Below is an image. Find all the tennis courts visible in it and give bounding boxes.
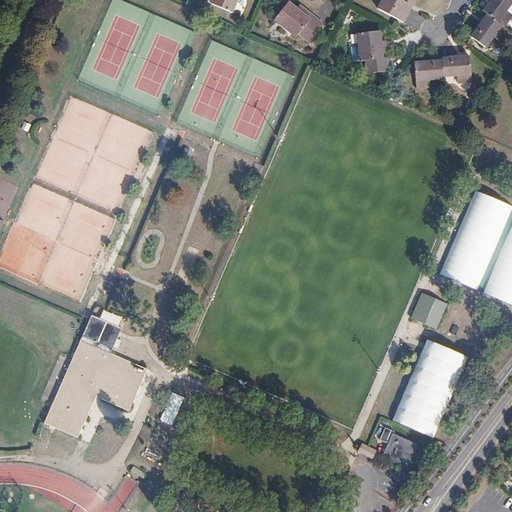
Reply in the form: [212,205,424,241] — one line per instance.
[178,40,253,140]
[40,202,115,301]
[78,114,153,214]
[219,58,294,158]
[0,184,74,284]
[78,0,153,97]
[37,96,112,196]
[118,14,194,114]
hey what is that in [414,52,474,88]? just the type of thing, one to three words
house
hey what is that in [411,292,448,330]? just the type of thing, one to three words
building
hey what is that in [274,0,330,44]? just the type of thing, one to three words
house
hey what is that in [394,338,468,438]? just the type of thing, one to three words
building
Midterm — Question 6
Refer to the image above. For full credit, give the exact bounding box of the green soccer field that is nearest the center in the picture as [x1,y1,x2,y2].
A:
[196,67,456,430]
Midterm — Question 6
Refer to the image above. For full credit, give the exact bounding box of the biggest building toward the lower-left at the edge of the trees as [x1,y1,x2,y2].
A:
[44,310,146,438]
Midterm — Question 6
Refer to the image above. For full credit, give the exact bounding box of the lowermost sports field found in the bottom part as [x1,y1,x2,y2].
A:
[0,317,39,442]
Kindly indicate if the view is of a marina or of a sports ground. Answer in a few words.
sports ground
